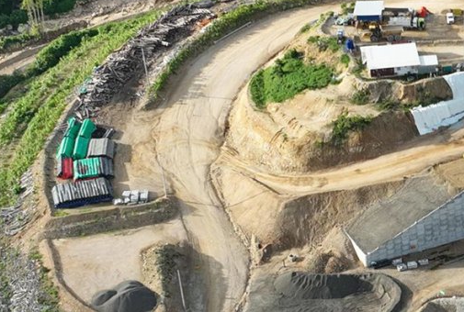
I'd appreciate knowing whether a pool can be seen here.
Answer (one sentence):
No, there's no pool here.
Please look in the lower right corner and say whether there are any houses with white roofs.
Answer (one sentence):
No, I see no house with a white roof in the lower right corner.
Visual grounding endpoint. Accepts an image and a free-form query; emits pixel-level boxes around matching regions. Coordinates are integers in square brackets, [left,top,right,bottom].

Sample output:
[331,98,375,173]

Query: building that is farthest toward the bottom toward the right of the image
[359,42,439,81]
